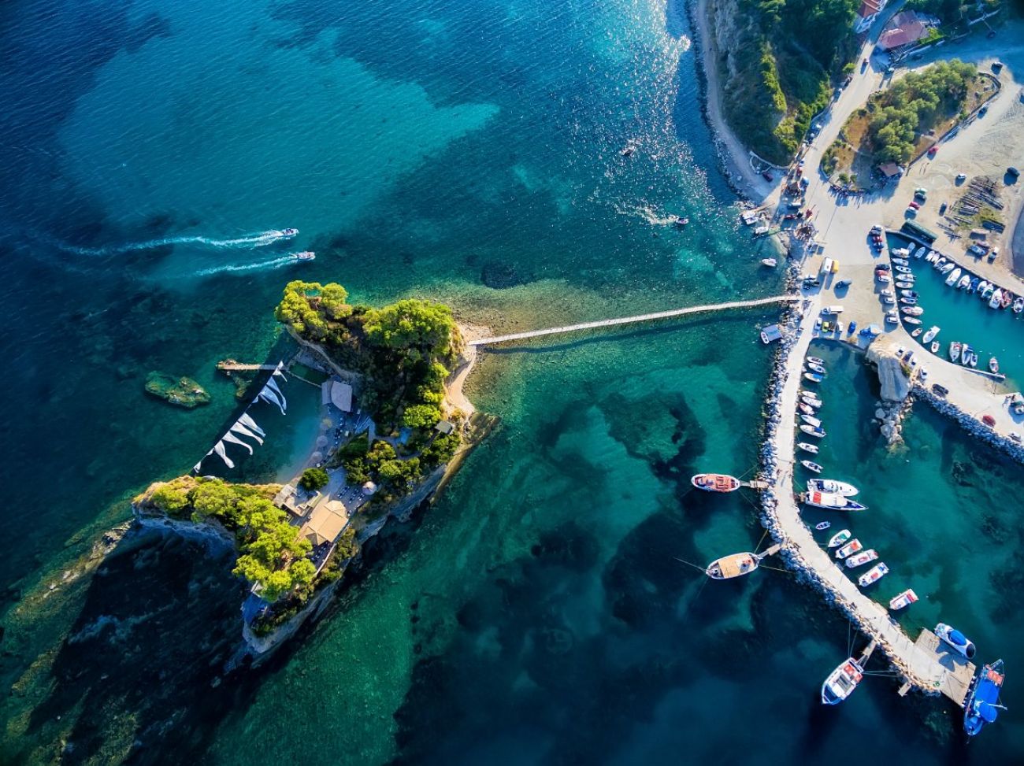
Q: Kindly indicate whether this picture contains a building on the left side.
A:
Yes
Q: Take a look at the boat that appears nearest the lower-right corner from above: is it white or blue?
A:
blue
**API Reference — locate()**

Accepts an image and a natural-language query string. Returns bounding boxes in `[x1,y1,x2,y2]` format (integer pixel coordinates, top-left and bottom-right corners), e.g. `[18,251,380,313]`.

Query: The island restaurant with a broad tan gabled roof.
[303,495,348,547]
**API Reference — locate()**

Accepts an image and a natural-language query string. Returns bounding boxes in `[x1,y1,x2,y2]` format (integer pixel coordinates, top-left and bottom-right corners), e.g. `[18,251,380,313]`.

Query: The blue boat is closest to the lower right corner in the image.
[964,663,1009,741]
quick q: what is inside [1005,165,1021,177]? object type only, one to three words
vehicle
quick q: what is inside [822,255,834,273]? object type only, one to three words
vehicle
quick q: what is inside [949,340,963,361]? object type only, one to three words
boat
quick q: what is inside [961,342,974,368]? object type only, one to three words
boat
